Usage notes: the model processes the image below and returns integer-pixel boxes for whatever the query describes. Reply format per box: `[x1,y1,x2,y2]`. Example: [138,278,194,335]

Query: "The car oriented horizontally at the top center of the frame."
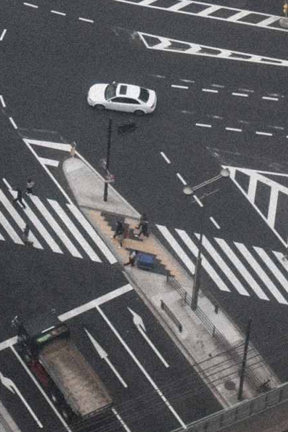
[85,78,161,117]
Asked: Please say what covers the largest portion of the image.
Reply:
paved ground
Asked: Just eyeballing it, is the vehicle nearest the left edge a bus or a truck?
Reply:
truck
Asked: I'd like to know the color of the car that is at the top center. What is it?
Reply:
white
